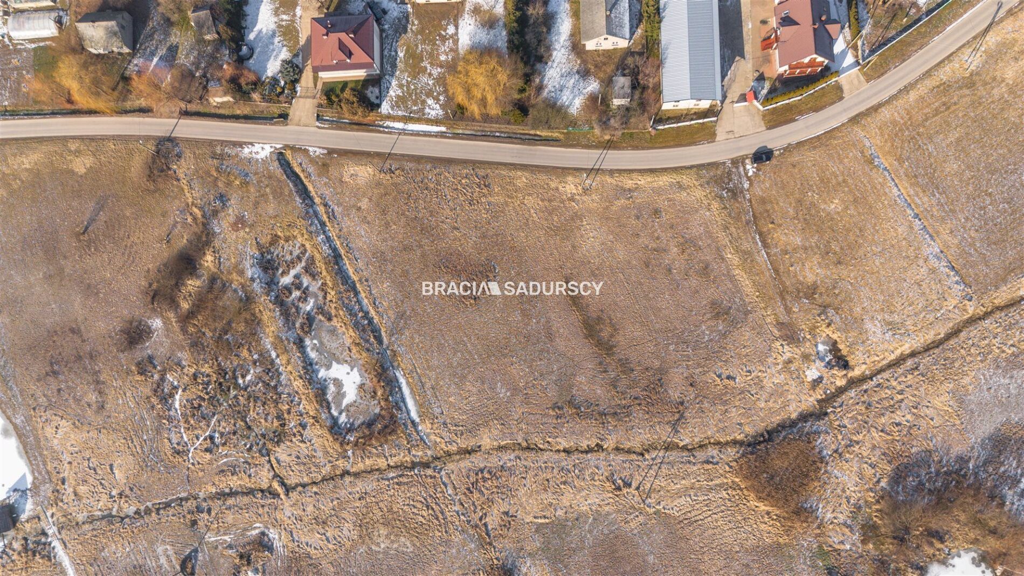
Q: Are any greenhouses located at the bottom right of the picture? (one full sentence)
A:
No, no greenhouse is visible at the bottom right of the picture.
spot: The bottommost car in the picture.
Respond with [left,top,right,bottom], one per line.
[752,150,775,163]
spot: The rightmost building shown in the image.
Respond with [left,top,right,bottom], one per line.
[757,0,841,81]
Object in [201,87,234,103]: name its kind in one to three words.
shed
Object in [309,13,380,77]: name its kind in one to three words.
house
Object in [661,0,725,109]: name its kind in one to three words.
barn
